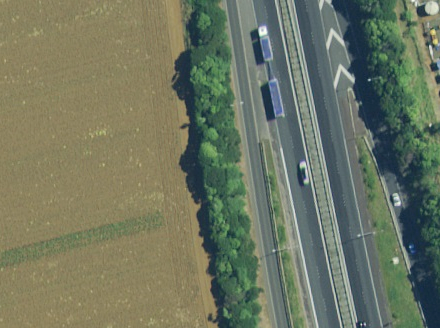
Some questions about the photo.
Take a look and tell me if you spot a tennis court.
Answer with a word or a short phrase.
No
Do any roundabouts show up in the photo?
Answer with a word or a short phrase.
No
